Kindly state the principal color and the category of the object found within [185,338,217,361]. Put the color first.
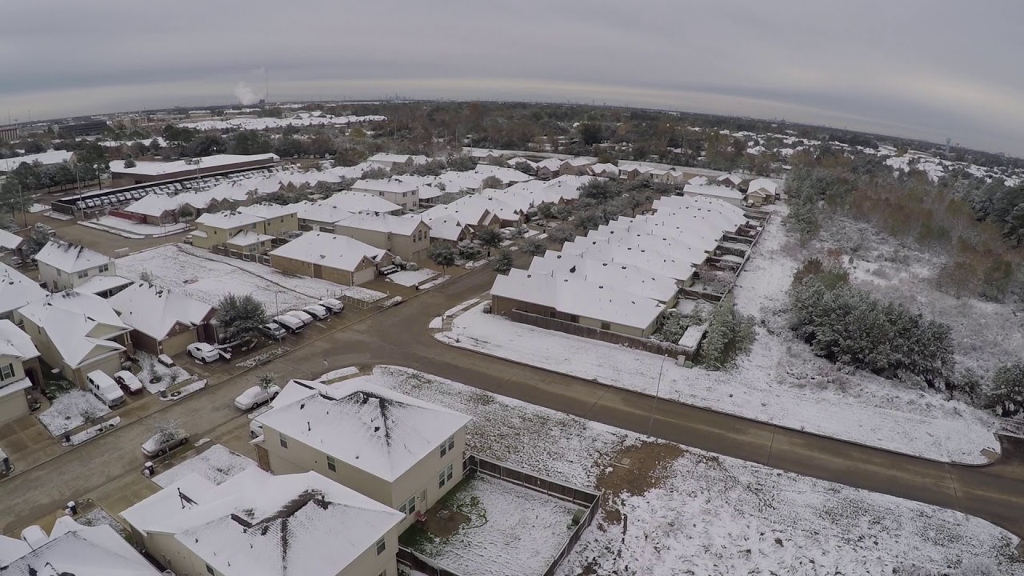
white car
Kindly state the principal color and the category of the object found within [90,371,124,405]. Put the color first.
white vehicle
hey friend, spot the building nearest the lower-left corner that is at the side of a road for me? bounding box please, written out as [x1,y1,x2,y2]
[0,492,160,576]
